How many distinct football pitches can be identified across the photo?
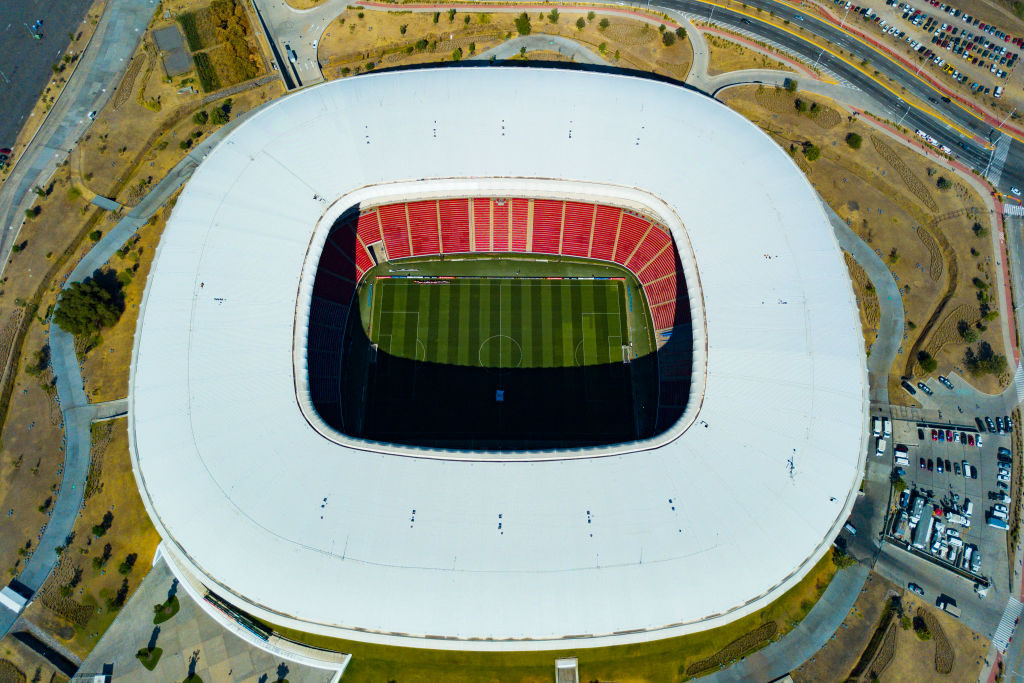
1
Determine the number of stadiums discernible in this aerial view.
one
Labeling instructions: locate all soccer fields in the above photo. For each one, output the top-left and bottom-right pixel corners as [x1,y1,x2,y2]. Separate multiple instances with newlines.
[359,275,639,444]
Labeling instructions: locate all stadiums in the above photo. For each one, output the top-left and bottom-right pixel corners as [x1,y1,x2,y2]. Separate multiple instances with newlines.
[126,65,871,651]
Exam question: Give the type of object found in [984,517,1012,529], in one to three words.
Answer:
vehicle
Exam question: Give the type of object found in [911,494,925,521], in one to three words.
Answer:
vehicle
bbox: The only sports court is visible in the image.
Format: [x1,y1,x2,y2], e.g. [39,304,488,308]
[153,26,194,76]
